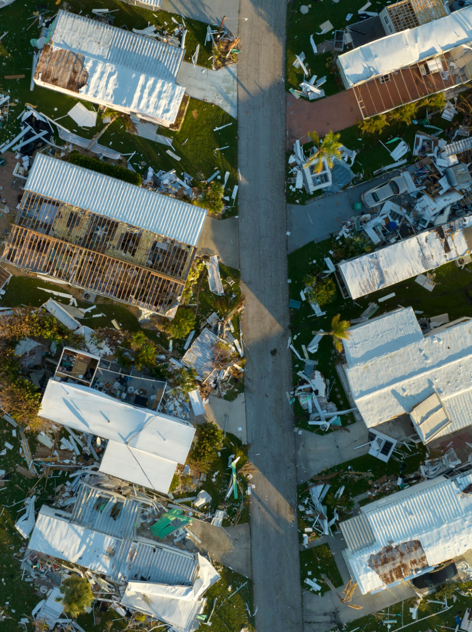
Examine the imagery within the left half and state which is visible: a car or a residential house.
residential house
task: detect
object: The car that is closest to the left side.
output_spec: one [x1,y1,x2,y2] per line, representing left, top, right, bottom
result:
[360,174,406,207]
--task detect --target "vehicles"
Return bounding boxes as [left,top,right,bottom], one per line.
[360,174,406,207]
[411,563,464,595]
